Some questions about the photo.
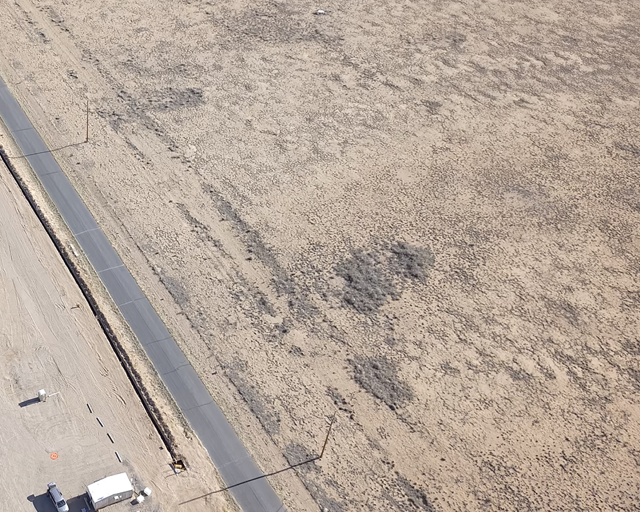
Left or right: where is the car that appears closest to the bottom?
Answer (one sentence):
The car that appears closest to the bottom appears in the left half of the scene.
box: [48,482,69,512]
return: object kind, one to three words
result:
car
